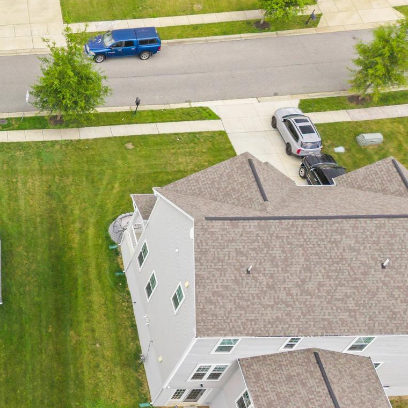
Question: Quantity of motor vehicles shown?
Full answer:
The photo contains 3 motor vehicles.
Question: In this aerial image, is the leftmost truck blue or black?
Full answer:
From above, the leftmost truck appears blue.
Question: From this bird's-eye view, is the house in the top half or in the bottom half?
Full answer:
It is in the bottom half that the house appears.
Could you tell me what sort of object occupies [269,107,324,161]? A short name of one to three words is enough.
car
